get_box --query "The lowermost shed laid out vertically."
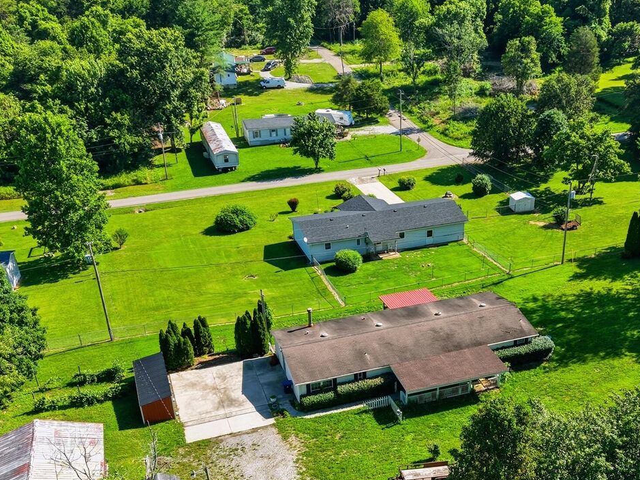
[134,352,176,426]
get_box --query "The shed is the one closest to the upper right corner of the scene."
[504,187,535,213]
